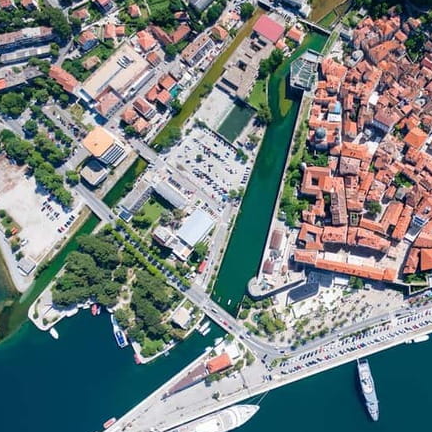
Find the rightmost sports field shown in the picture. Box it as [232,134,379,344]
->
[218,102,257,145]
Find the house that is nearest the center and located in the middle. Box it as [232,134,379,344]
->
[177,208,216,245]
